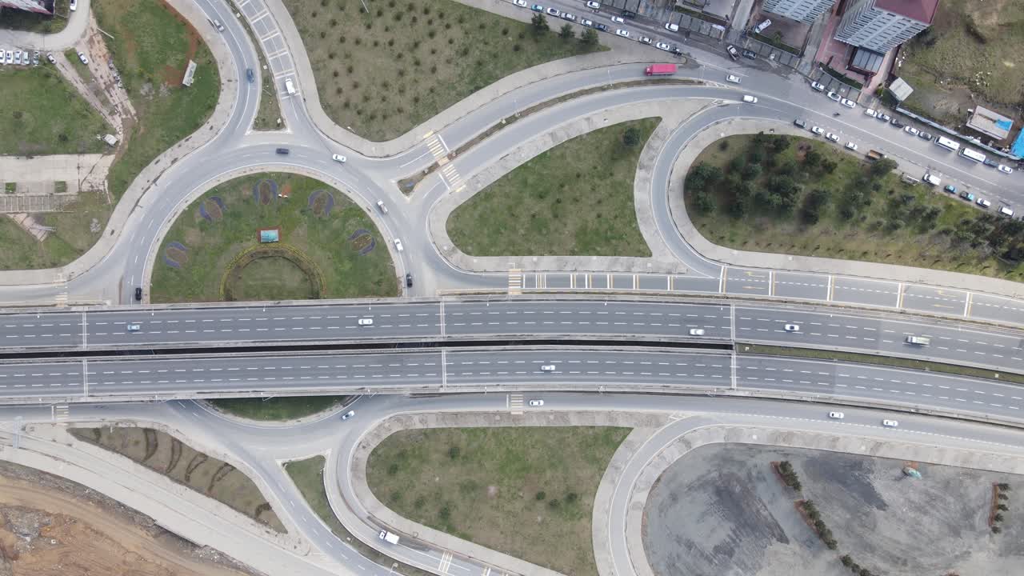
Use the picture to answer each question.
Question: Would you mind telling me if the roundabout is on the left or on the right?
left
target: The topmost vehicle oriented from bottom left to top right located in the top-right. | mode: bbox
[757,17,771,32]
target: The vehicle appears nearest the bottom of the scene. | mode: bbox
[378,531,400,546]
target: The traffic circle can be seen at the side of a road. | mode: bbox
[112,134,436,458]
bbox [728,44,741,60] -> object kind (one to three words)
vehicle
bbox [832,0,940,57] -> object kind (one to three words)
building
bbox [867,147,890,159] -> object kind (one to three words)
vehicle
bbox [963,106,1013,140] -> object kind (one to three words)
shed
